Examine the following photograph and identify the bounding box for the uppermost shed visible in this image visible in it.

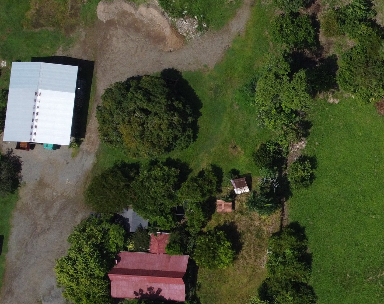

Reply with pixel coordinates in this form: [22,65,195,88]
[3,62,89,145]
